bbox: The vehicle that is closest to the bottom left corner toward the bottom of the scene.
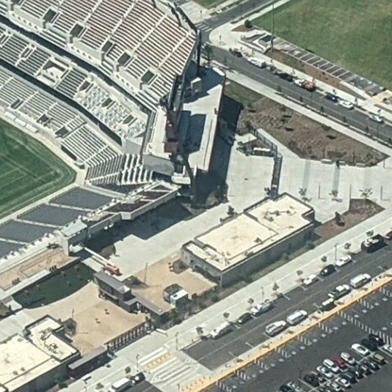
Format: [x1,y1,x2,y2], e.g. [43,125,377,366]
[110,375,132,391]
